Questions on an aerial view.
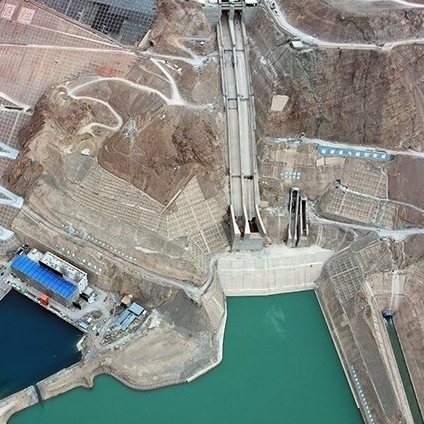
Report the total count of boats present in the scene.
0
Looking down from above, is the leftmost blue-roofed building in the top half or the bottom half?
bottom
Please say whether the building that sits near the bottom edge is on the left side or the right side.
right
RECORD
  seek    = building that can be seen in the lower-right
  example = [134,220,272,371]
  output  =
[347,303,404,424]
